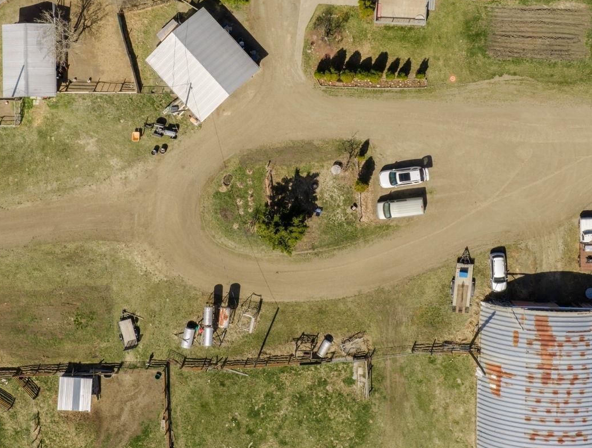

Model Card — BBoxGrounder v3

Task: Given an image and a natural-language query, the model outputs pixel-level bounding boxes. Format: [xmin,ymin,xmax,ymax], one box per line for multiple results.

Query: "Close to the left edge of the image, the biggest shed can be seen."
[2,23,61,97]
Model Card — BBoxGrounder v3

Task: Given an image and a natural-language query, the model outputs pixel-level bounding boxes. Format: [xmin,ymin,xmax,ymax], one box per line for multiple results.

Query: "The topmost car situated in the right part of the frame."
[380,166,430,190]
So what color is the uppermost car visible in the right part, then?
white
